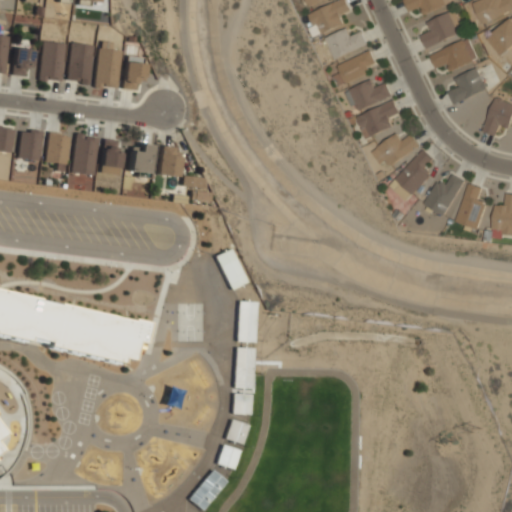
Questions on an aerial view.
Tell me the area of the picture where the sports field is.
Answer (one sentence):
The sports field is located in the bottom region of the scene.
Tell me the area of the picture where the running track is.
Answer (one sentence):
You can find the running track in the bottom area of the picture.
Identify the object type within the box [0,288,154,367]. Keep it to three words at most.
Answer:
building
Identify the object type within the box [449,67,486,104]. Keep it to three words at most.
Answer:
house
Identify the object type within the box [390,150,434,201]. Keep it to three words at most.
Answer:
house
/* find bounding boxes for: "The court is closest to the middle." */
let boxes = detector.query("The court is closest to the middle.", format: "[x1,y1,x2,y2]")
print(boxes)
[178,304,204,342]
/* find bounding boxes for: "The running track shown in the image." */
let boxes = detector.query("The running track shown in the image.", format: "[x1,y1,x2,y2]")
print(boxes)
[219,368,359,512]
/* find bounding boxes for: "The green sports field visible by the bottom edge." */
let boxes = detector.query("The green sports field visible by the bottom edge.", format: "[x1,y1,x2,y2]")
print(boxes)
[228,376,350,512]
